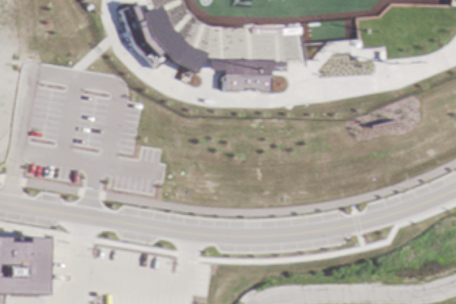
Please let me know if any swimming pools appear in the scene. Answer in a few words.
No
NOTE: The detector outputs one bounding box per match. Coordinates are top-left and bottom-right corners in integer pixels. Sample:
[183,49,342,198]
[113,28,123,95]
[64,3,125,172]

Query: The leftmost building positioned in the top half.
[116,4,166,67]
